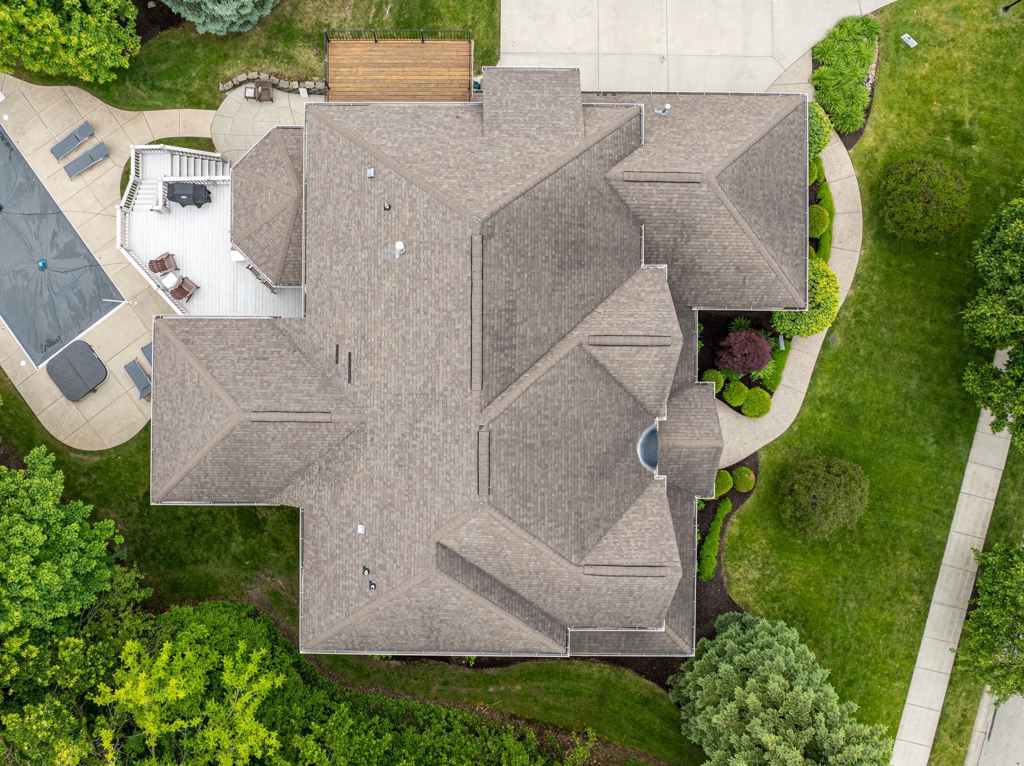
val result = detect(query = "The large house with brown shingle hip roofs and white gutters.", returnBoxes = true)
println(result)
[150,67,809,657]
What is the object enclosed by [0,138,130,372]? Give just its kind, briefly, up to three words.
swimming pool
